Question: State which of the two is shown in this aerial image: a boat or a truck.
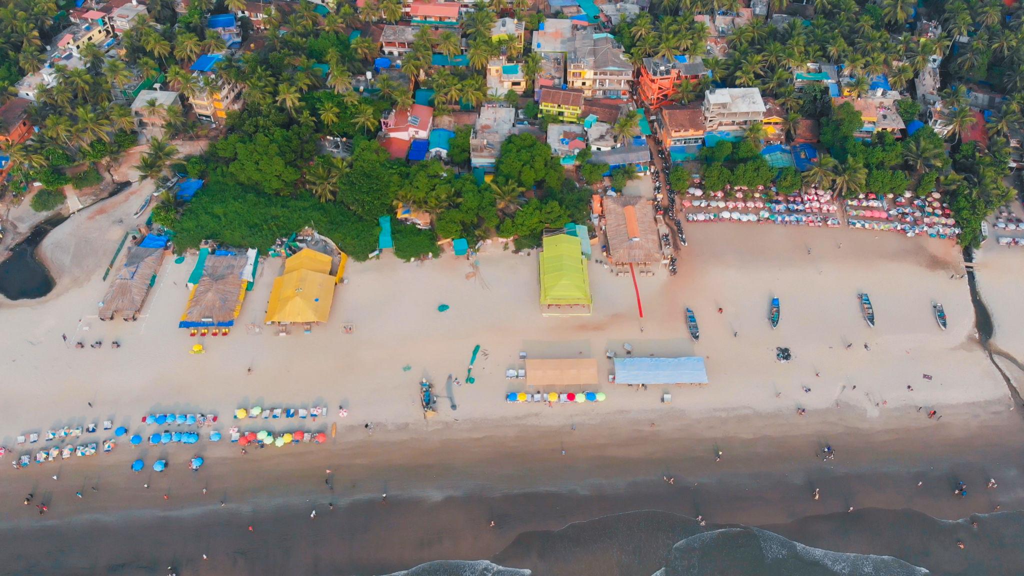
boat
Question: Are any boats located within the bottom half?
Yes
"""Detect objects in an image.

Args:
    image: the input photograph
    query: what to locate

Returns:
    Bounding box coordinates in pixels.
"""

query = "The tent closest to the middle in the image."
[539,235,593,316]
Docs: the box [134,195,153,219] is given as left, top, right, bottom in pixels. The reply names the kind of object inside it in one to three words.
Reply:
boat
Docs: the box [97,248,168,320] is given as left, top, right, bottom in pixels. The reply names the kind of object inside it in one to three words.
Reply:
shed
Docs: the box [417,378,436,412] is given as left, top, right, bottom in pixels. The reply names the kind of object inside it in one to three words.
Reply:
boat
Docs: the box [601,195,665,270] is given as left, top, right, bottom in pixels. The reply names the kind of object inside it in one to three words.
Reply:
building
